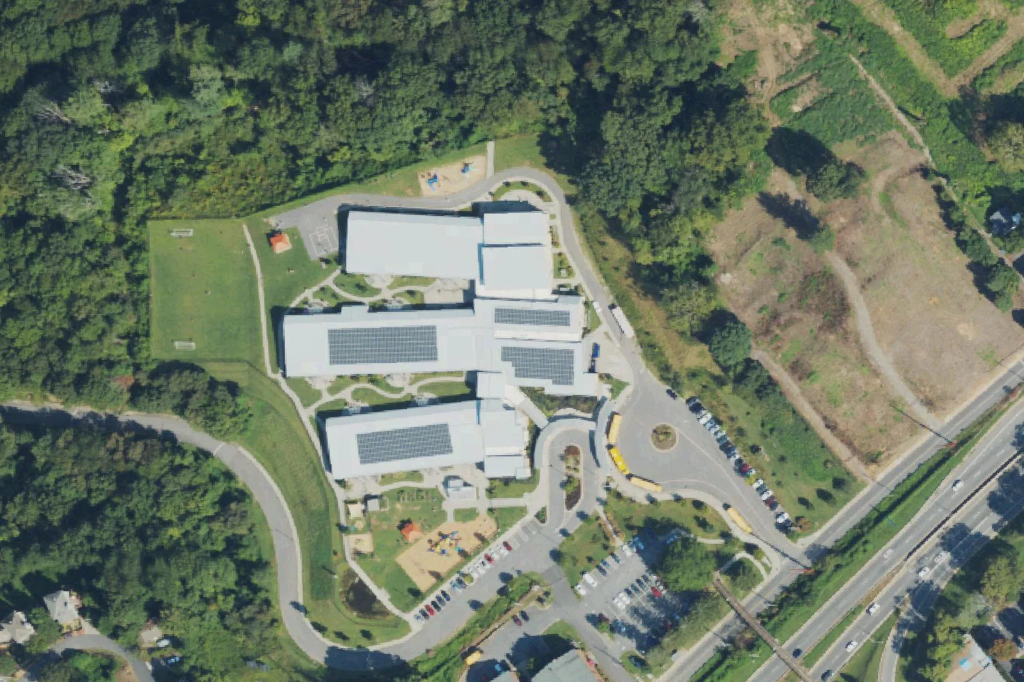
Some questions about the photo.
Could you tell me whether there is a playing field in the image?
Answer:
Yes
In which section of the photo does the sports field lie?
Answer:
left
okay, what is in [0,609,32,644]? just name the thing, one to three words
house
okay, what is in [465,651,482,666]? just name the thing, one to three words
vehicle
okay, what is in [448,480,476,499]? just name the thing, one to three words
shed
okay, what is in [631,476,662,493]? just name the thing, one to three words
vehicle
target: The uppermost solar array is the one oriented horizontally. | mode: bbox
[495,307,570,326]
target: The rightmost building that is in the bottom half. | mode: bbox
[949,634,1011,682]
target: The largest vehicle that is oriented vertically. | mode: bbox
[608,413,621,443]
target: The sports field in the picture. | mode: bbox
[151,219,261,359]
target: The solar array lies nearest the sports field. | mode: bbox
[328,326,438,364]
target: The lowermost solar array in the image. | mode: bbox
[357,423,453,464]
